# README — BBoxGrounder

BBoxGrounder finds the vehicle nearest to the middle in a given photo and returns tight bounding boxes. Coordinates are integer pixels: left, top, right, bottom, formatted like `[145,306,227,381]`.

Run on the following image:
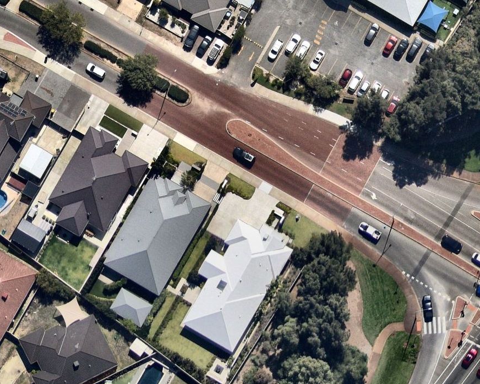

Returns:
[231,147,256,164]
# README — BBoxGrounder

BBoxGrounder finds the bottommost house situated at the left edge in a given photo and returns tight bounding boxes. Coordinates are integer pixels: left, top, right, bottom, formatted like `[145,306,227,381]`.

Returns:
[19,315,118,384]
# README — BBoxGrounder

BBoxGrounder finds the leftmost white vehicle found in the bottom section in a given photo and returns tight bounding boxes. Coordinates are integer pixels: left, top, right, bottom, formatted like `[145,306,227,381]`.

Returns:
[358,223,382,241]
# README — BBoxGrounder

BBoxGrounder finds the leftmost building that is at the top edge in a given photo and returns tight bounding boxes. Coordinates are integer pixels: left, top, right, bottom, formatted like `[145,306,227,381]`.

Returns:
[164,0,231,33]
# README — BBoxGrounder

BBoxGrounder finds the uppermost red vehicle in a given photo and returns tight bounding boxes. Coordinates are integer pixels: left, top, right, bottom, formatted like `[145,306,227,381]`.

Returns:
[382,34,397,56]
